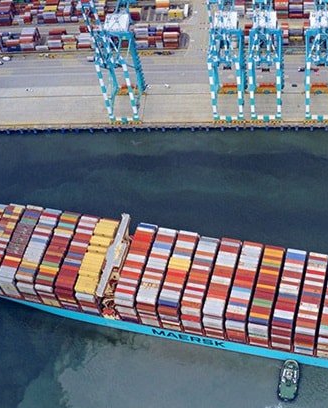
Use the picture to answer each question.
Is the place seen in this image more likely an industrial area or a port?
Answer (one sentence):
What you see here is a port.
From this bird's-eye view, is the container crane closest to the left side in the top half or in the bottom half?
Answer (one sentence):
You can find the container crane closest to the left side in the top half.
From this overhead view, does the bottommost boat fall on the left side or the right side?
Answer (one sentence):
You can find the bottommost boat on the right side of the picture.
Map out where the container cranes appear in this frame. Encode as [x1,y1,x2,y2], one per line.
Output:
[83,0,145,121]
[248,0,283,121]
[302,0,328,121]
[207,0,247,121]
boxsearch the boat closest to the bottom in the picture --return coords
[277,361,300,405]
